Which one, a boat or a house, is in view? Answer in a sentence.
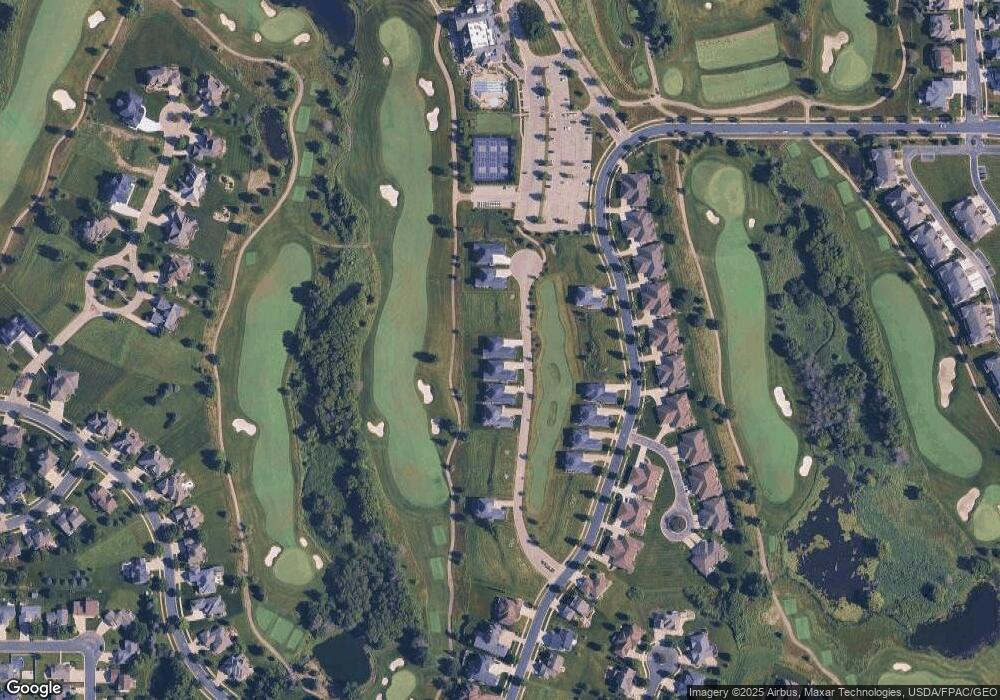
Of the two, only a house appears.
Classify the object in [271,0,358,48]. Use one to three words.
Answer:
pond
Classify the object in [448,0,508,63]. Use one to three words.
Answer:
building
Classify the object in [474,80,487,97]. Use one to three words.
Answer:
swimming pool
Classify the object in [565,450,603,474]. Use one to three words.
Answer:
house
